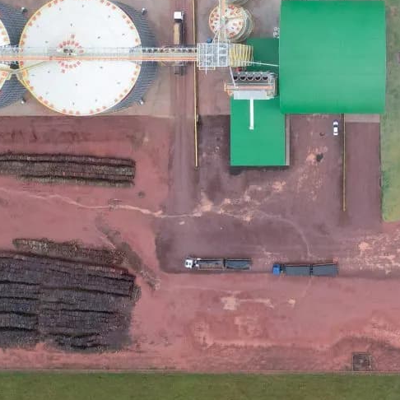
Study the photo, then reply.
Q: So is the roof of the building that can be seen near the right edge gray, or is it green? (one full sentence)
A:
In this view, the roof of the building that can be seen near the right edge is green.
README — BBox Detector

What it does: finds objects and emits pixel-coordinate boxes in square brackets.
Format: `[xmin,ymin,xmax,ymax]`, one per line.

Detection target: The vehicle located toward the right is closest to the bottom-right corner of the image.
[272,261,338,276]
